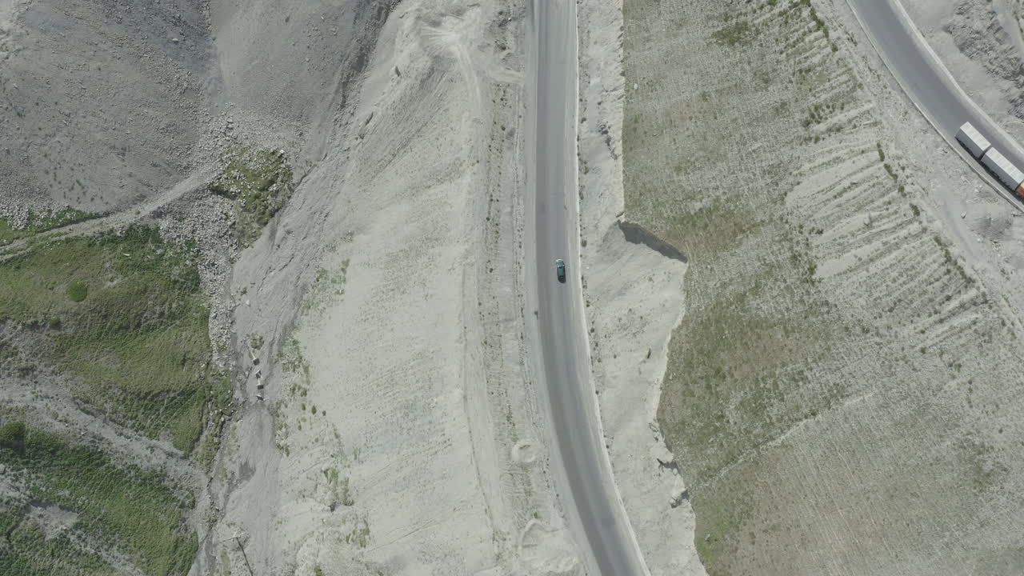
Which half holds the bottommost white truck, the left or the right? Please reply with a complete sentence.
The bottommost white truck is on the right side of the image.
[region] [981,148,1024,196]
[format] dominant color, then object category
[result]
white truck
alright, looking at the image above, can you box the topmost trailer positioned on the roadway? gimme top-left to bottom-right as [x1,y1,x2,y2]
[954,122,991,155]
